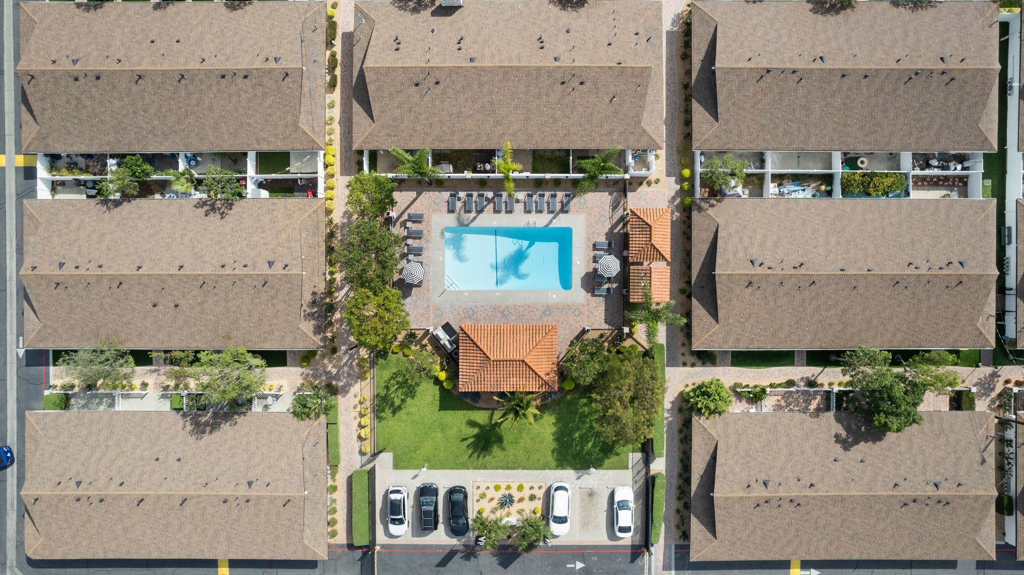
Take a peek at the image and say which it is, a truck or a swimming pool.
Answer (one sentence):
There is a swimming pool in the scene.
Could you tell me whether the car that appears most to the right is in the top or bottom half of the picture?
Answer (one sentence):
The car that appears most to the right is in the bottom half of the image.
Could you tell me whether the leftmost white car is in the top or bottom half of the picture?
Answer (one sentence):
It is in the bottom half that the leftmost white car appears.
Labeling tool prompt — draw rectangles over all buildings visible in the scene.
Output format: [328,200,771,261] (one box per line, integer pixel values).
[1003,410,1024,562]
[690,410,1008,562]
[14,0,326,154]
[352,0,663,151]
[1003,197,1024,350]
[691,197,1006,351]
[17,197,326,351]
[692,0,1011,154]
[628,207,672,263]
[629,266,672,303]
[19,410,328,561]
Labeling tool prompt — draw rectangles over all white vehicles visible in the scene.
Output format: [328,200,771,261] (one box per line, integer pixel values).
[385,484,409,535]
[612,484,636,537]
[548,481,573,535]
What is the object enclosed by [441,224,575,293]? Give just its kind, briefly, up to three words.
swimming pool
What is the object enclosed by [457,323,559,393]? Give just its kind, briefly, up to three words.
gazebo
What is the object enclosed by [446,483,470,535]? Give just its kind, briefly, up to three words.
car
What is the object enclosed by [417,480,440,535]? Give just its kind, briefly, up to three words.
car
